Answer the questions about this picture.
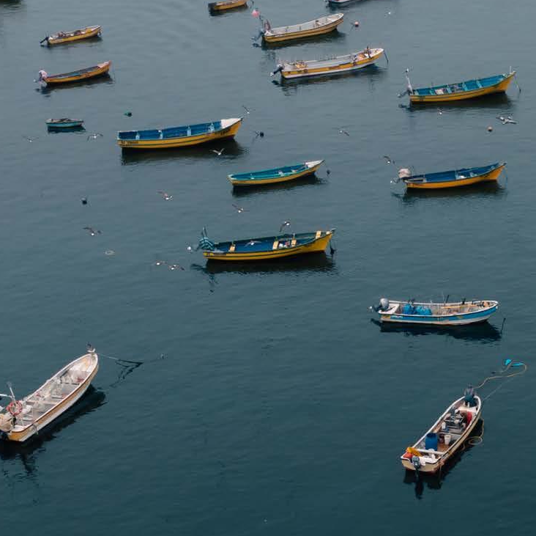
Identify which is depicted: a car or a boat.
boat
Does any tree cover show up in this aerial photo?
No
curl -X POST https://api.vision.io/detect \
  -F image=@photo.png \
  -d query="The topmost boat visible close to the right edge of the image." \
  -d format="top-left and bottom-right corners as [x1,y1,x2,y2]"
[403,71,517,102]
